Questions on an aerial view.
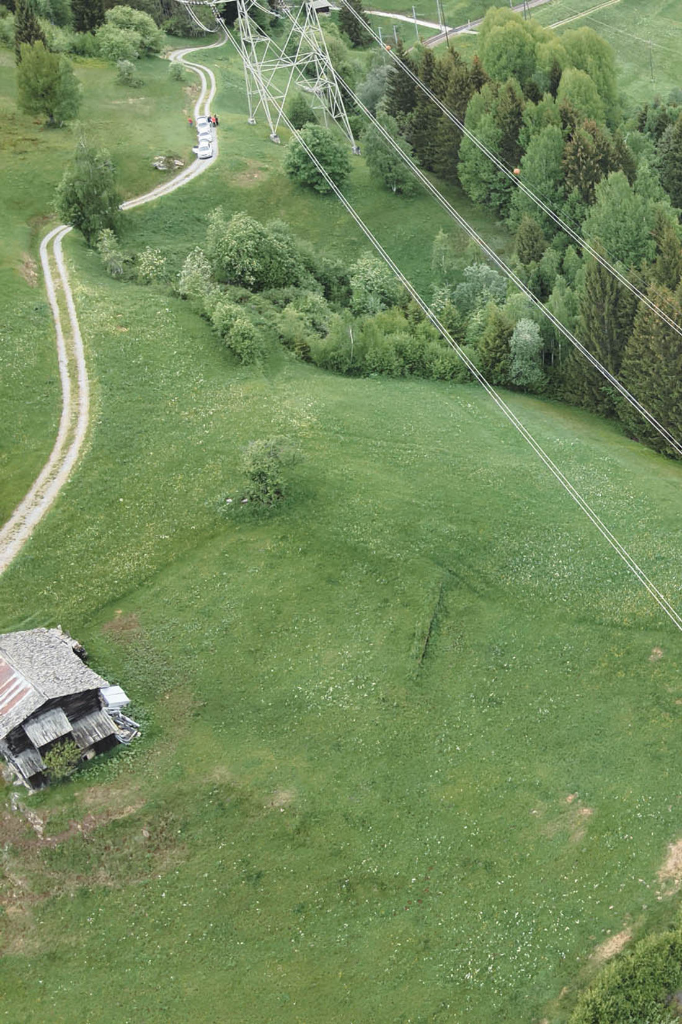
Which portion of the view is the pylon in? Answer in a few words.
top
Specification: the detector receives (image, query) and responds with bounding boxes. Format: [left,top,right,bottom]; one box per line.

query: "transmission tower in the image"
[192,0,361,150]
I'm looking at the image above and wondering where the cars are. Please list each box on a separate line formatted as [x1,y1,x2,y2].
[190,138,212,159]
[195,124,213,140]
[195,110,216,127]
